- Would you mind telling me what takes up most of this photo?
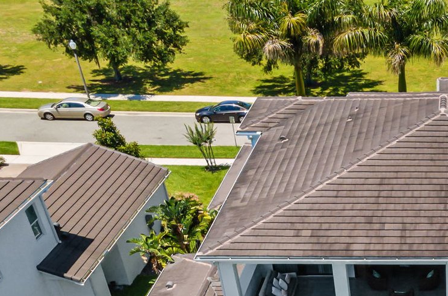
buildings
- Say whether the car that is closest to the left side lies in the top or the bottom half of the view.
top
